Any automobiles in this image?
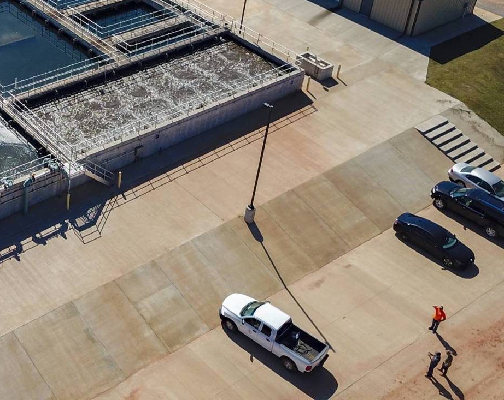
Yes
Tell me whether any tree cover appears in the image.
No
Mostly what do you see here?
paved ground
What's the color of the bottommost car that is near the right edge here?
black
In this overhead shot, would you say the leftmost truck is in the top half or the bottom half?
bottom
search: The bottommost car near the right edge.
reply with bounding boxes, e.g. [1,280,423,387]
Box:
[392,211,480,270]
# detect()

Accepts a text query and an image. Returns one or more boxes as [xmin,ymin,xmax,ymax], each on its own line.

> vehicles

[214,291,332,382]
[449,160,504,202]
[392,211,480,270]
[430,181,504,237]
